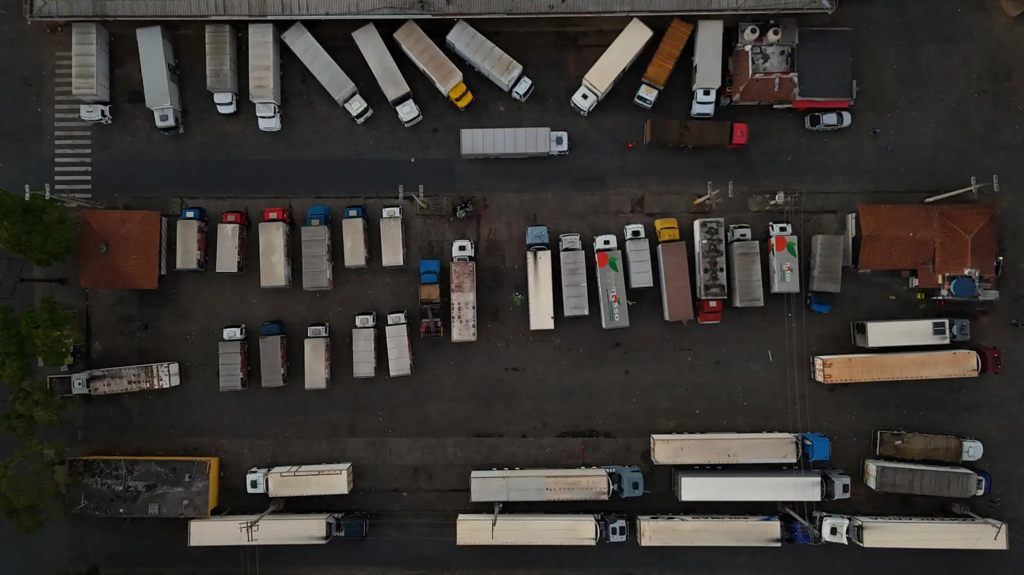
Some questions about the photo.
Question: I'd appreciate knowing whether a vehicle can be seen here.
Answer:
Yes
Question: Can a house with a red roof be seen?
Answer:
Yes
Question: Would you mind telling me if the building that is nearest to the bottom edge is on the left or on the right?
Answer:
left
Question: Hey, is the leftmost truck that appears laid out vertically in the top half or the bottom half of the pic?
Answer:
top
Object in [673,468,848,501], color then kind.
white truck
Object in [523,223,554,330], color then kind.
white truck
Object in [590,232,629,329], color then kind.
gray truck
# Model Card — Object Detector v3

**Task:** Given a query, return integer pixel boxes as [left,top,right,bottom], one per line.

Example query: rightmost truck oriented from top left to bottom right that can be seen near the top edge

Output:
[447,20,535,103]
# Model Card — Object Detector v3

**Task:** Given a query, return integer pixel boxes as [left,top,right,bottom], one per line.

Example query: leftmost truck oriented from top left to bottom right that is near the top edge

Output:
[282,21,375,125]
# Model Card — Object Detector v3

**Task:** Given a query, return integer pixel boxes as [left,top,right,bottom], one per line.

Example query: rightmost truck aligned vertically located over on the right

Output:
[804,235,841,314]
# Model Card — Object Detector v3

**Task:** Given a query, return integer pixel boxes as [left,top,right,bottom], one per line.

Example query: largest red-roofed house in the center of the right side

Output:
[850,205,997,287]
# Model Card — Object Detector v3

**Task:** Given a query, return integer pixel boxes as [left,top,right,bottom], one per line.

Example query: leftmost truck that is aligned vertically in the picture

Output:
[72,22,114,127]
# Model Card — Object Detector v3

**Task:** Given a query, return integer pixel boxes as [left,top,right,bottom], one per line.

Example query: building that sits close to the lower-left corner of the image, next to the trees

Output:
[64,454,220,518]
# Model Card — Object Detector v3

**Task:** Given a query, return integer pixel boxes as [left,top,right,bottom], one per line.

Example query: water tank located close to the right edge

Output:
[935,276,974,299]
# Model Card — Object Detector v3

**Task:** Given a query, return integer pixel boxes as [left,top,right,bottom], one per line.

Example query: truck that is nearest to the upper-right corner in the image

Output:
[803,109,851,132]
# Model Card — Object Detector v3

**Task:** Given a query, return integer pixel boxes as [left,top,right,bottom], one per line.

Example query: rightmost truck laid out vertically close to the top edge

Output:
[689,20,723,121]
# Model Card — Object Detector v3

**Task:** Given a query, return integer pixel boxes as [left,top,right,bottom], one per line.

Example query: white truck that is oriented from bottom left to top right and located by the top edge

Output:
[567,20,653,120]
